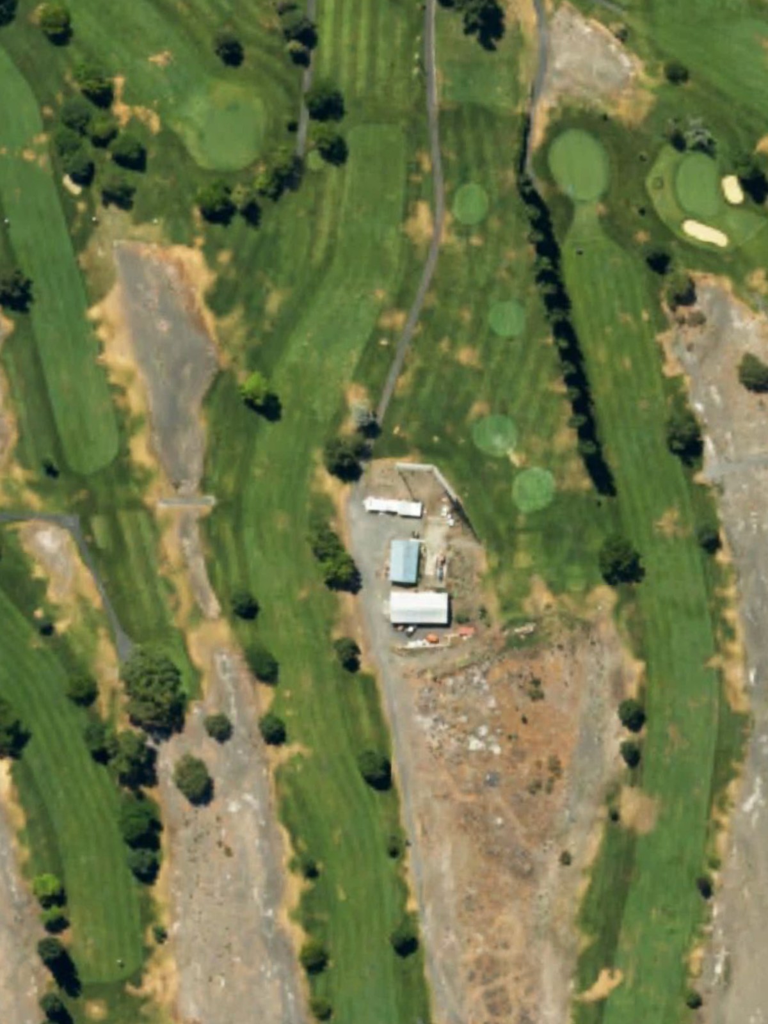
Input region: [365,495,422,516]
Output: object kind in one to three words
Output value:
shed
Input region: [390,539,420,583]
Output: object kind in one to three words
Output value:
shed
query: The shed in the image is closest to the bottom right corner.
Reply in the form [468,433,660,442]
[390,591,448,624]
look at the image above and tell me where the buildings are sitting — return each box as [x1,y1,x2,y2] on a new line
[365,495,422,516]
[390,539,420,583]
[390,591,448,624]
